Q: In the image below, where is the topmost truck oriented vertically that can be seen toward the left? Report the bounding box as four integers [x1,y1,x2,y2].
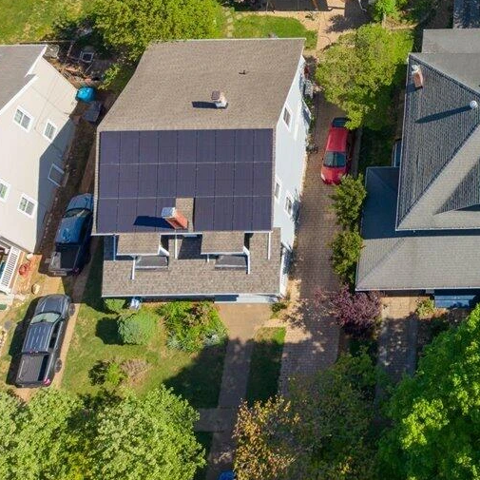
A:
[43,185,95,281]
